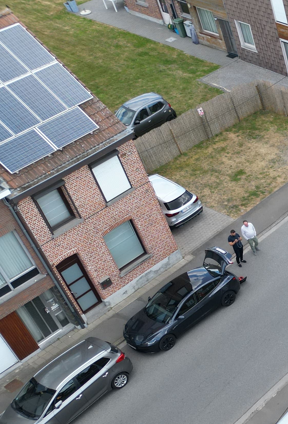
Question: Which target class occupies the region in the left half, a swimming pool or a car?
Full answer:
Visible in the left half is a car.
